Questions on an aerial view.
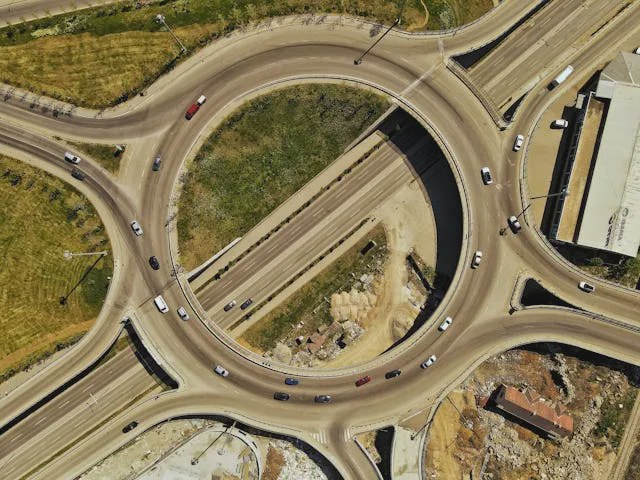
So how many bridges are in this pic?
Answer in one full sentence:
The photo contains 2 bridges.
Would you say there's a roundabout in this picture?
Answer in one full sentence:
Yes, a roundabout appears in the view.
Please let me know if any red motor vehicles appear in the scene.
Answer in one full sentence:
Yes, the photo shows a red motor vehicle.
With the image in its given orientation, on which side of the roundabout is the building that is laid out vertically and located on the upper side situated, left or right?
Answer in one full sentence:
Relative to the roundabout, the building that is laid out vertically and located on the upper side lies to the right.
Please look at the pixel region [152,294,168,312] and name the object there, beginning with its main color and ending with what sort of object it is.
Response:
white vehicle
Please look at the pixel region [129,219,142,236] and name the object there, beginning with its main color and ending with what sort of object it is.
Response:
white vehicle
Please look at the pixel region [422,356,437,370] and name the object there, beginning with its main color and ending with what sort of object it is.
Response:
white car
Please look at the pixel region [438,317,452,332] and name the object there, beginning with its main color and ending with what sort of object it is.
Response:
white car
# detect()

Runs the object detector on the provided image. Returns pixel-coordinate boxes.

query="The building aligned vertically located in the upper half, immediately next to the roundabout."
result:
[544,51,640,262]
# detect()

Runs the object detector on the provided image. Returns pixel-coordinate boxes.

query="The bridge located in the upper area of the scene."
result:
[395,54,506,181]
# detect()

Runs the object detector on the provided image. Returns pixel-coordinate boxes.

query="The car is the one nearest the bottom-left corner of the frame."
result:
[121,421,137,433]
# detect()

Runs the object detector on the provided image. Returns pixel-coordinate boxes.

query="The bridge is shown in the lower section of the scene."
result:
[128,278,238,388]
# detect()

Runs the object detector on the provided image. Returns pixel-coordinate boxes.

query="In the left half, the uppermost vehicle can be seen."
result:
[181,92,204,119]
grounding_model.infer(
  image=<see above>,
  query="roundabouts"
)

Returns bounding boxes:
[1,24,521,442]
